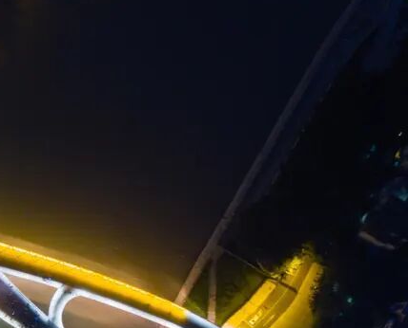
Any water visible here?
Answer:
Yes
